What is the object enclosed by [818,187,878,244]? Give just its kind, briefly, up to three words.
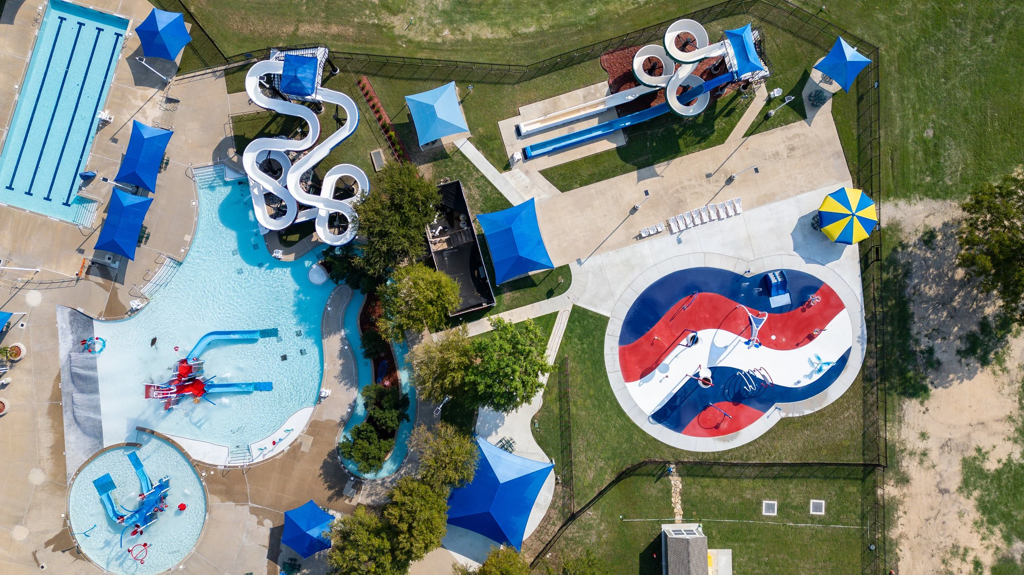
umbrella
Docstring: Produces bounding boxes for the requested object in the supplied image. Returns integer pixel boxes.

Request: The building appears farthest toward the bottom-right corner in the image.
[664,528,711,575]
